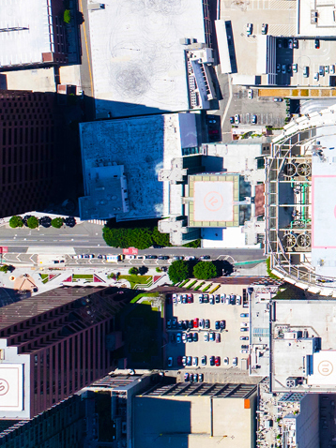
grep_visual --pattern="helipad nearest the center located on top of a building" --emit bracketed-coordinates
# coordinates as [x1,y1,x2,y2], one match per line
[194,181,233,221]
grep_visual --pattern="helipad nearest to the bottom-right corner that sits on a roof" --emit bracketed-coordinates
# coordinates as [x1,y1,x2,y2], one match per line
[306,349,336,384]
